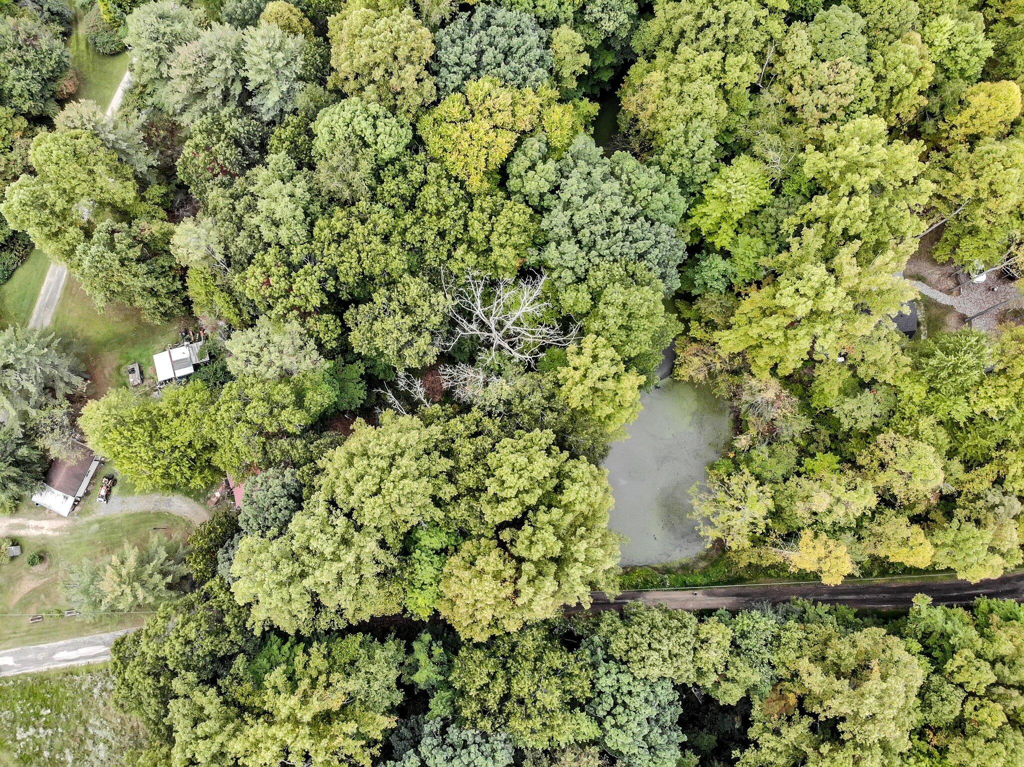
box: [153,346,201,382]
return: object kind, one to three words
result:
shed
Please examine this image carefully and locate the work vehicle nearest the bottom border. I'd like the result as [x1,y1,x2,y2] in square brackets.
[94,478,114,506]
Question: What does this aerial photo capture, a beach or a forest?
forest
